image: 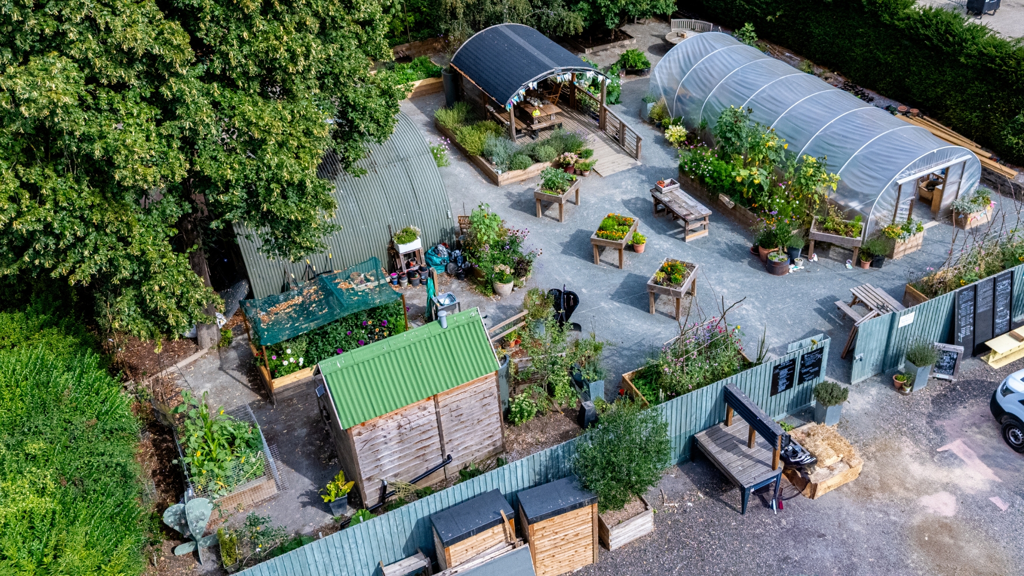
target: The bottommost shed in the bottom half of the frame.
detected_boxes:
[311,305,507,517]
